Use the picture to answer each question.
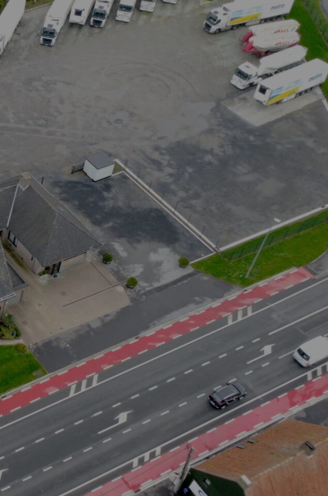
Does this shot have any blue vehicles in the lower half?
No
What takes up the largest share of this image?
paved ground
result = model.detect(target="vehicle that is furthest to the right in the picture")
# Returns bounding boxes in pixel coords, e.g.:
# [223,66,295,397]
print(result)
[295,335,328,365]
